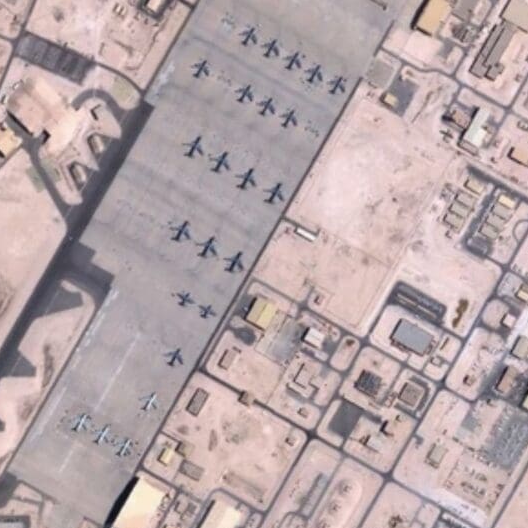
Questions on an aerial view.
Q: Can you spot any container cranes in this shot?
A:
No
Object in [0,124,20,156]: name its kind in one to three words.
hangar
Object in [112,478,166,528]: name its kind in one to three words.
hangar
